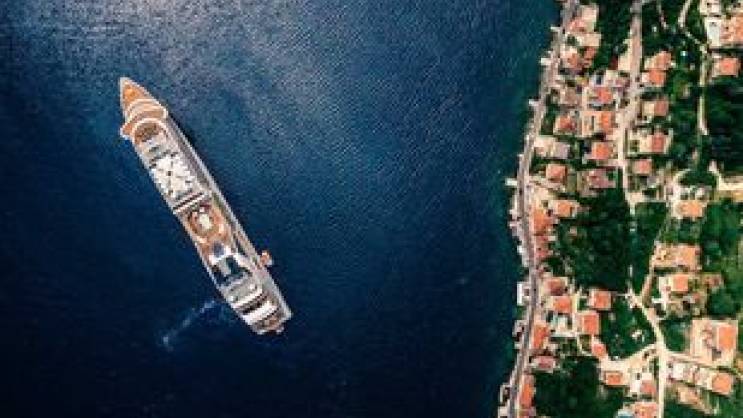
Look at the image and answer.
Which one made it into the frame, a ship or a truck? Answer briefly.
ship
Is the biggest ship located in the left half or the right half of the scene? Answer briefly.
left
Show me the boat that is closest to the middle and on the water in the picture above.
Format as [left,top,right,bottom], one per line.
[260,249,272,265]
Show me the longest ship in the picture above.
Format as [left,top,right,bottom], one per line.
[119,78,295,340]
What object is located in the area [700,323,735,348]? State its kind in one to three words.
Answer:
house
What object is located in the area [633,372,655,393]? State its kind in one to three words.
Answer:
house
